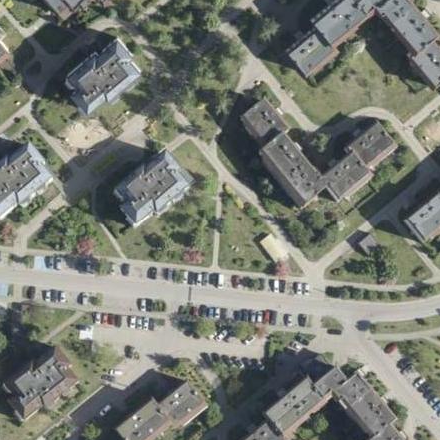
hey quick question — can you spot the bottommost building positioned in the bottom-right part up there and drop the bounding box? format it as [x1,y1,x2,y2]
[246,368,408,440]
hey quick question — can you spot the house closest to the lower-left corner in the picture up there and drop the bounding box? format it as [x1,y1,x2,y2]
[2,346,79,422]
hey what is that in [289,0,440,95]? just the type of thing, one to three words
building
